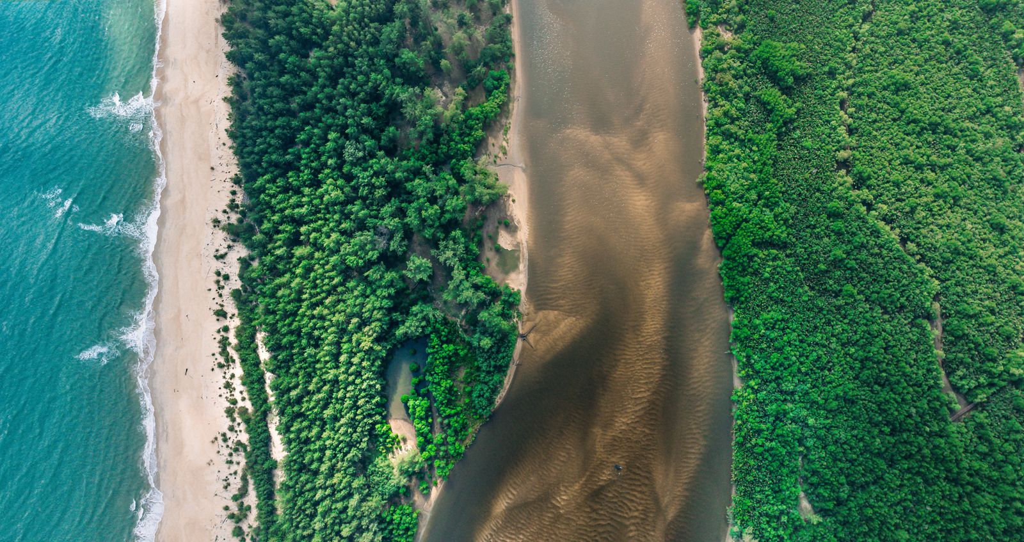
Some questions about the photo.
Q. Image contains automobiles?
No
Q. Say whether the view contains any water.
Yes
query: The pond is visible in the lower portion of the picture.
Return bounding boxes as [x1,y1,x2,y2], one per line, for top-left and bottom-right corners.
[387,339,434,419]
